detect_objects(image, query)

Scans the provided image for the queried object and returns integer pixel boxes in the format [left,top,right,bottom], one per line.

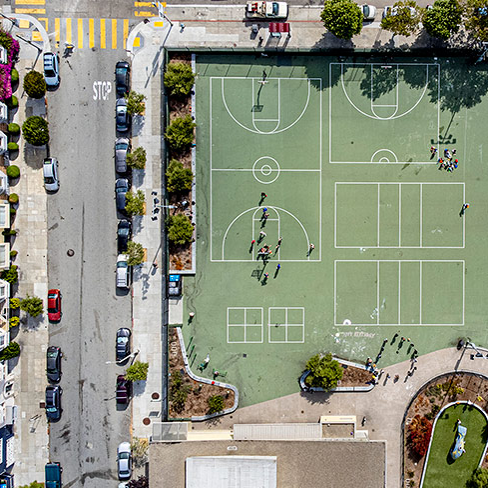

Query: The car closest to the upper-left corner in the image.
[43,53,60,89]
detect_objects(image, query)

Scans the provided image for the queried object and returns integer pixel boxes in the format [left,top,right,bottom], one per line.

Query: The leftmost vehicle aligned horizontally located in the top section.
[245,0,288,20]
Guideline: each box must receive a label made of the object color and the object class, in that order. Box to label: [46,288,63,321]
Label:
red car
